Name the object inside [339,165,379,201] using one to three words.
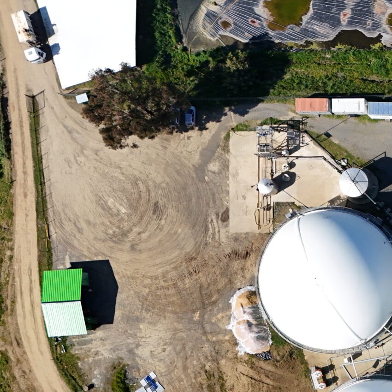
silo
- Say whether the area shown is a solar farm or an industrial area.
industrial area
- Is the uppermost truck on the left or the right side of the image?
left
